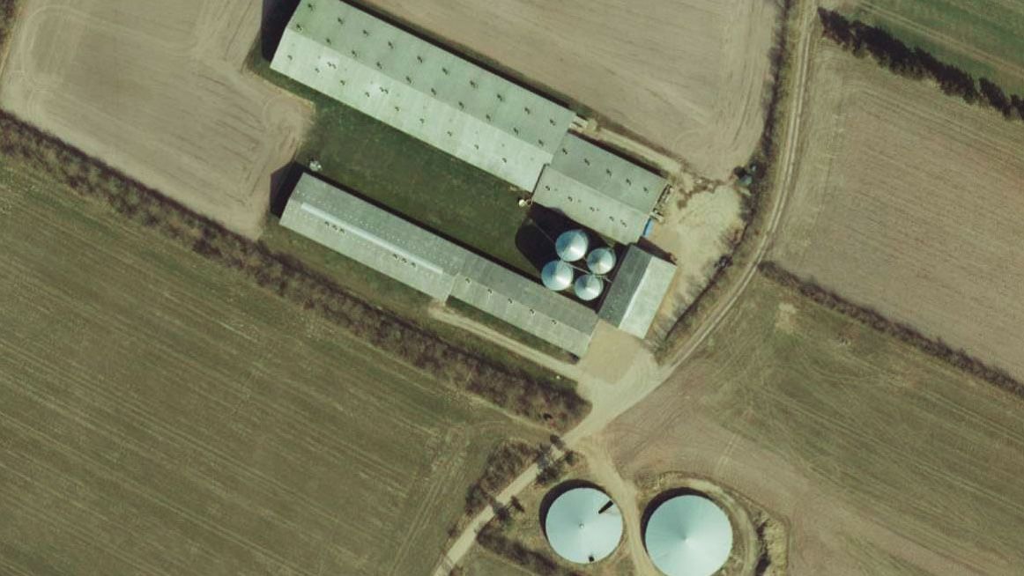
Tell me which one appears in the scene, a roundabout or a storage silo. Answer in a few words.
storage silo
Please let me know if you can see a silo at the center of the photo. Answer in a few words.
Yes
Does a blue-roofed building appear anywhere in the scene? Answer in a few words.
No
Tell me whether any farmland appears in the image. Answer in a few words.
Yes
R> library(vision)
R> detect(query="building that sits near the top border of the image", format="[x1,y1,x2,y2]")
[271,0,573,193]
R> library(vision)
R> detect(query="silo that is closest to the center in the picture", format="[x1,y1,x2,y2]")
[540,259,574,292]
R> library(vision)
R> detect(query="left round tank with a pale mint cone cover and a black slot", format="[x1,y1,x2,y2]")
[544,487,622,565]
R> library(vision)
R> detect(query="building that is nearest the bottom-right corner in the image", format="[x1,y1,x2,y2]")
[598,246,677,338]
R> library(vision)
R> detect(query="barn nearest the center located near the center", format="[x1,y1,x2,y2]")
[449,254,599,356]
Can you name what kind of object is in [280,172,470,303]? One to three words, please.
barn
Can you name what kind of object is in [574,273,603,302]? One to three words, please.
silo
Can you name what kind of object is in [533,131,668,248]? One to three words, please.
barn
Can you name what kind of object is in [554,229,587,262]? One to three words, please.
silo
